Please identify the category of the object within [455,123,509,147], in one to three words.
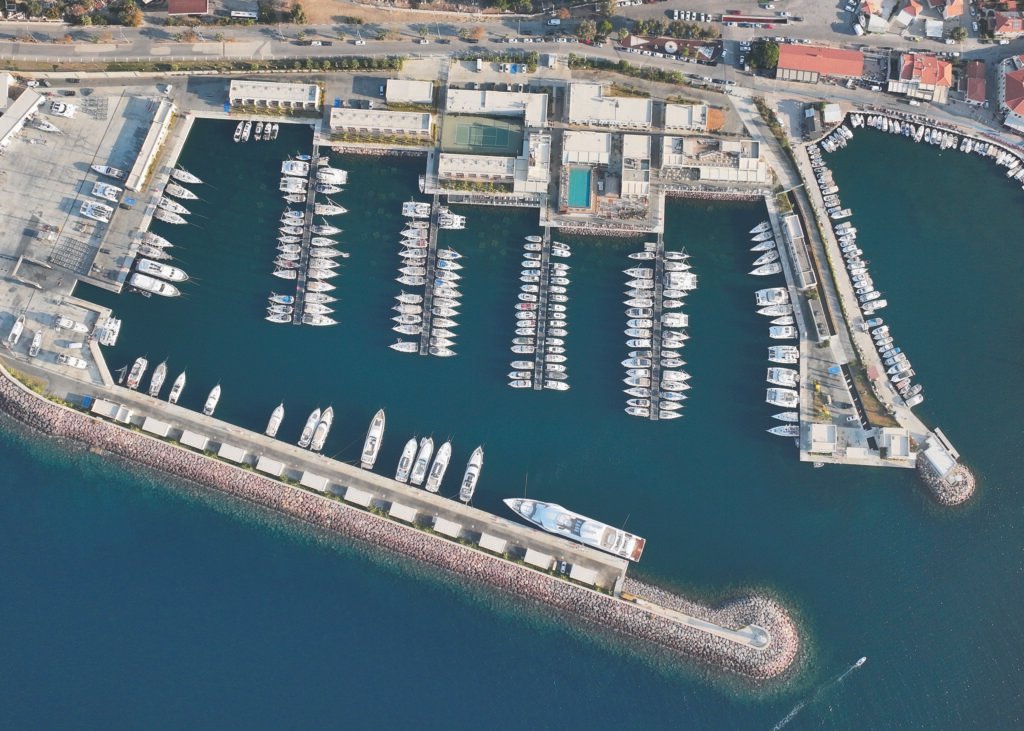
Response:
tennis court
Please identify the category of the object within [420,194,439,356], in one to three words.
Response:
pier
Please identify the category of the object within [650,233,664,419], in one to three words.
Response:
pier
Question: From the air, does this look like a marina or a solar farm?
marina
